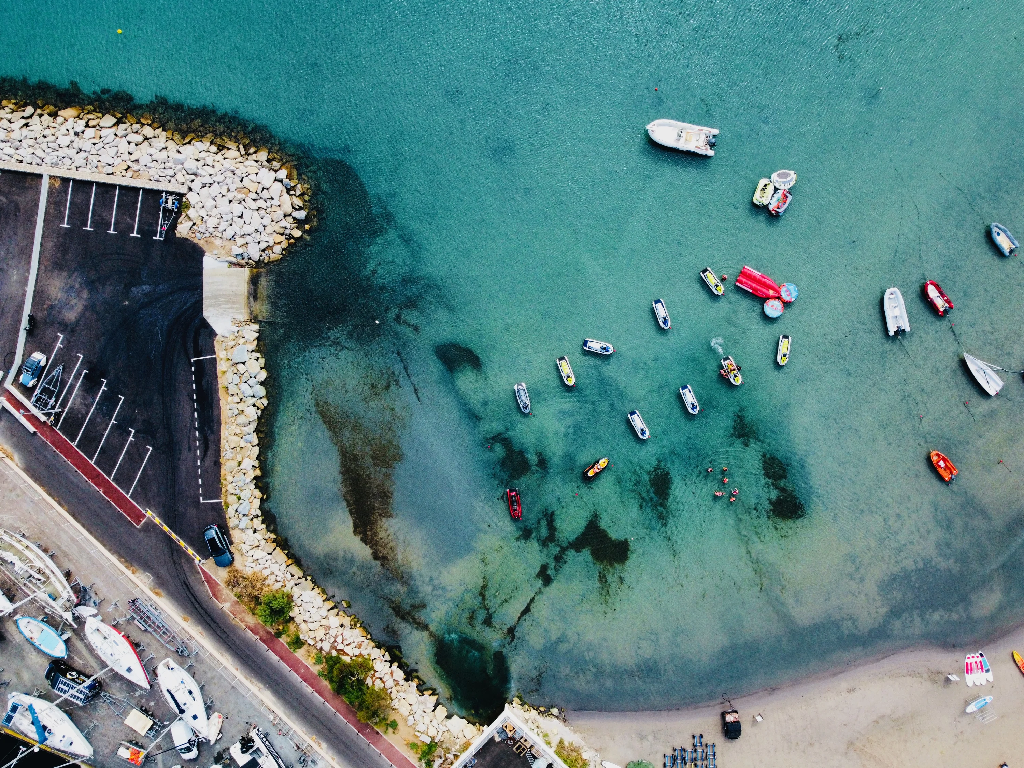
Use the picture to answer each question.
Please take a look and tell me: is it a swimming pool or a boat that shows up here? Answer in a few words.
boat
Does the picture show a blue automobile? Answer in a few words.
Yes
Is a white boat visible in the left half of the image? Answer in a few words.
Yes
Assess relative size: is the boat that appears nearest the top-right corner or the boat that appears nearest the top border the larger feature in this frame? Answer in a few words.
the boat that appears nearest the top border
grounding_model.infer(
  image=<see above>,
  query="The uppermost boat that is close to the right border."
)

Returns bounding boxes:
[990,221,1019,255]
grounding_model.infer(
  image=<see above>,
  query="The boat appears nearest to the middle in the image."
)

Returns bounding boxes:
[515,383,531,413]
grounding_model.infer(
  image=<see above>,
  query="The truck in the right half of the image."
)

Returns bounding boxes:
[721,706,743,739]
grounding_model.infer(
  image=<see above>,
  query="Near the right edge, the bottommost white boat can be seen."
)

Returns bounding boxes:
[963,353,1015,394]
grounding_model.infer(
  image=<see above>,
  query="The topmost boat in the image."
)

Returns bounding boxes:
[643,117,719,155]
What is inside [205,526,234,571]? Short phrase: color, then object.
blue car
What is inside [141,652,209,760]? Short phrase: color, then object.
white boat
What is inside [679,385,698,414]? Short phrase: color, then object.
white boat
